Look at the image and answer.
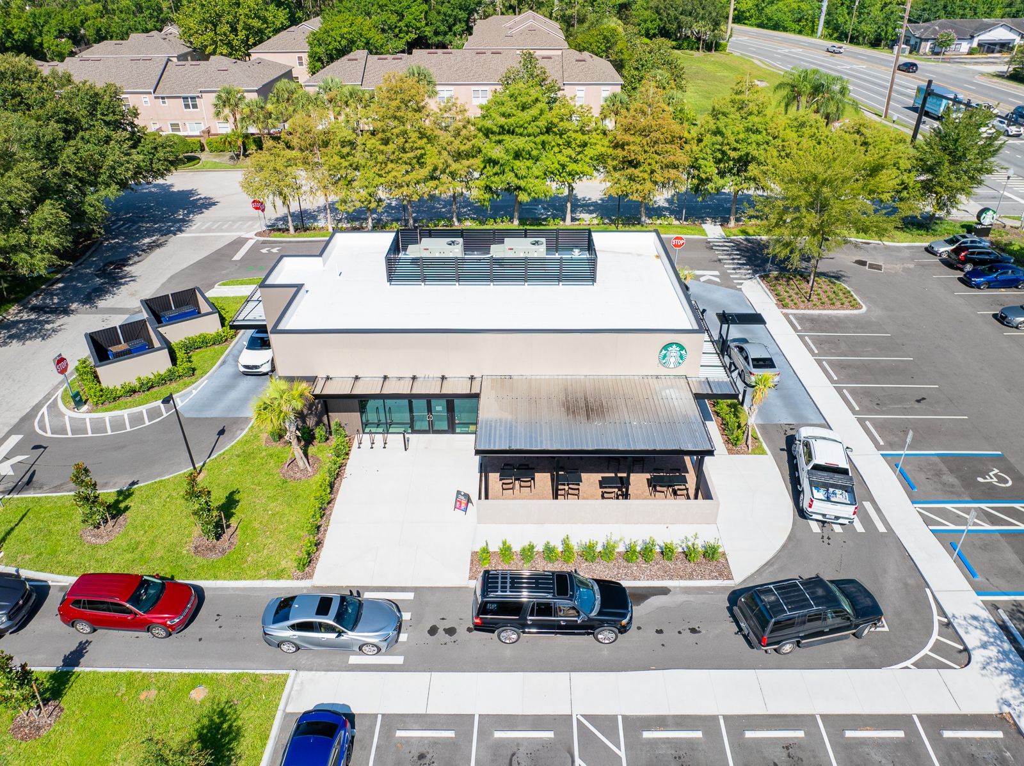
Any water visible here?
No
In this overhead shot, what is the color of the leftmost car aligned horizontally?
red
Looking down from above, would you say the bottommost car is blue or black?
blue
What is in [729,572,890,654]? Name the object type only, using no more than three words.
car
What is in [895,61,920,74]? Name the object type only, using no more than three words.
vehicle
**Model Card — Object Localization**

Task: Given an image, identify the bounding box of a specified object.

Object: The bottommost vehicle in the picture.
[270,708,343,766]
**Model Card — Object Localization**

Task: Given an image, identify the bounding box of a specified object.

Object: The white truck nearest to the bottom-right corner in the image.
[793,426,863,528]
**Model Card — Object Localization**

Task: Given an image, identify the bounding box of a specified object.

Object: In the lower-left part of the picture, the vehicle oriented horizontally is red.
[53,569,197,639]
